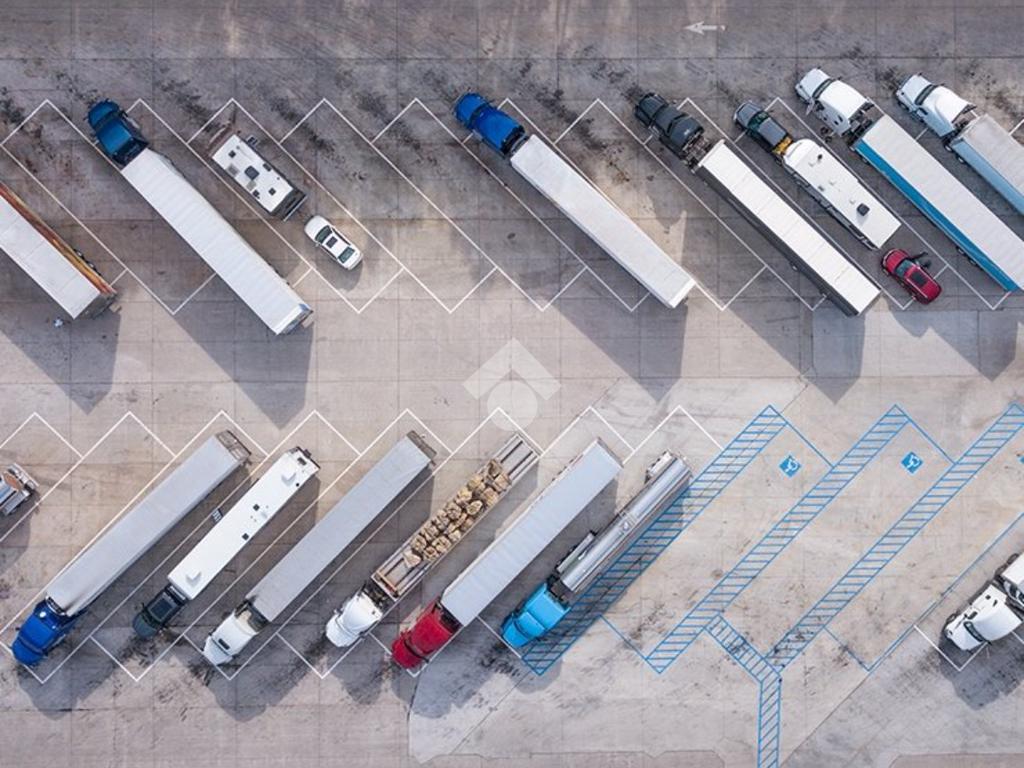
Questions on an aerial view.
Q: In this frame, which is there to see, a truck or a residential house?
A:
truck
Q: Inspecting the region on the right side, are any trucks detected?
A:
Yes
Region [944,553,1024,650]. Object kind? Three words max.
truck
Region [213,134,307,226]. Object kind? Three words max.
camper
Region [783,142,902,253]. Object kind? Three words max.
vehicle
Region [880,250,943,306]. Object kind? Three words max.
car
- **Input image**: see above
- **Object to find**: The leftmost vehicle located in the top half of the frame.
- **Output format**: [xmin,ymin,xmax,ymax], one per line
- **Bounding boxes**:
[0,183,115,320]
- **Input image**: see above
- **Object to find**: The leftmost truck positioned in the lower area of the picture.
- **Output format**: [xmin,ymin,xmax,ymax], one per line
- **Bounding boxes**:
[0,462,41,525]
